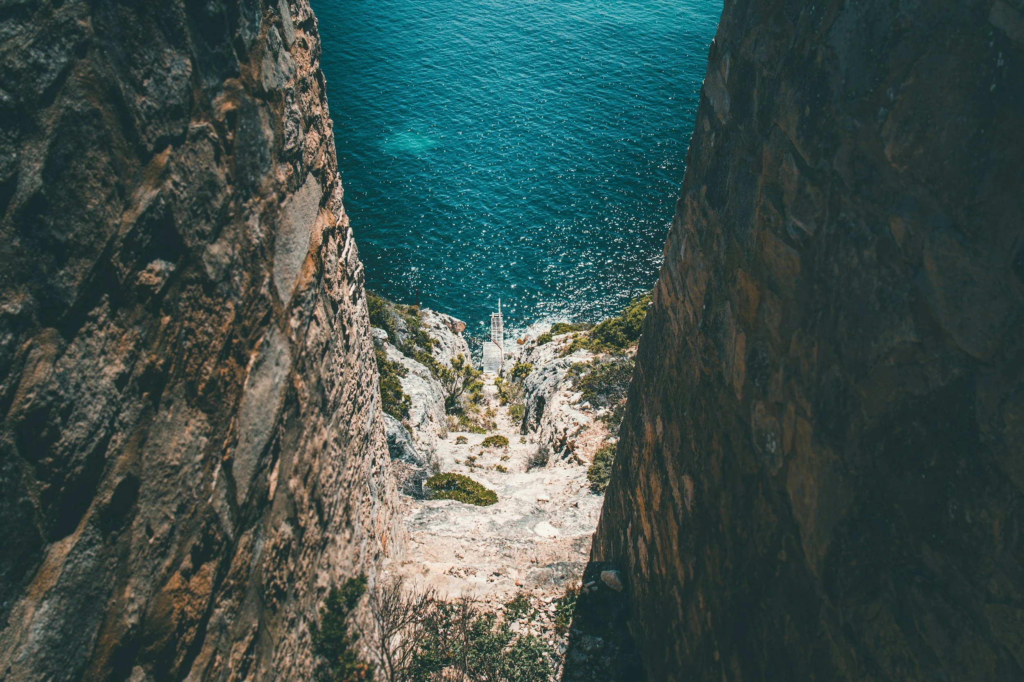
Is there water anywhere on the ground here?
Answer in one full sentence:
Yes, water can be seen from above here.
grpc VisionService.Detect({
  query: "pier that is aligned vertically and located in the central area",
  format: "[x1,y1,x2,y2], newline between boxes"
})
[482,296,504,373]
